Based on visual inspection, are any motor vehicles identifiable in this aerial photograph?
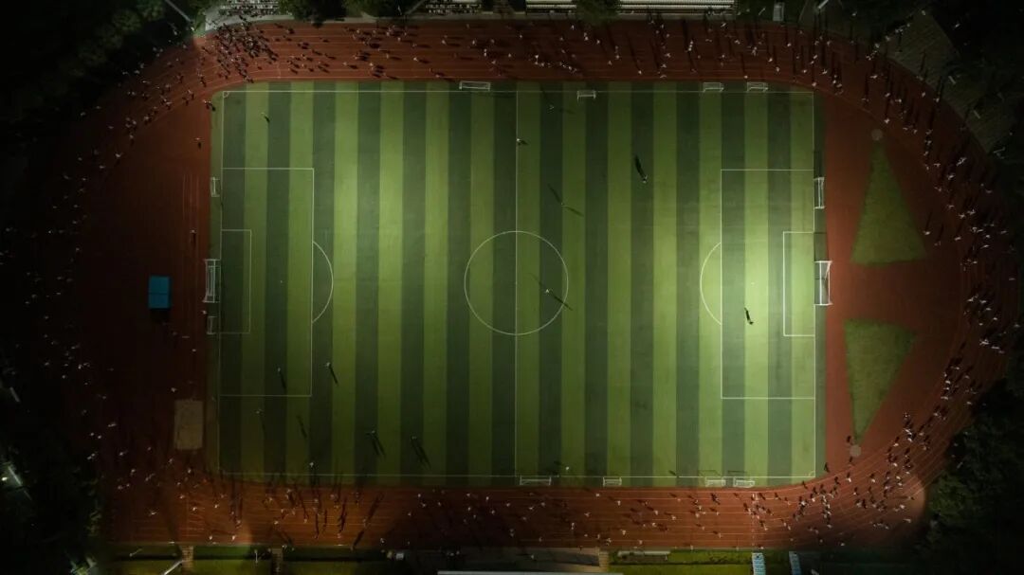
No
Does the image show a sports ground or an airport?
sports ground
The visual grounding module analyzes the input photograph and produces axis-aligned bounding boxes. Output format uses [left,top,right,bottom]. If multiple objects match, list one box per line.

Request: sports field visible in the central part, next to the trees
[203,80,828,489]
